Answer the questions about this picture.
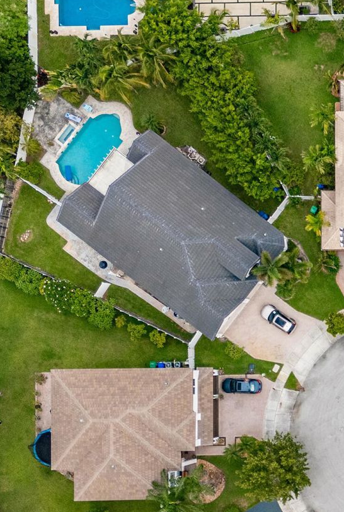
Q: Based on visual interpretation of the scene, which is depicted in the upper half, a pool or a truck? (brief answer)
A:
pool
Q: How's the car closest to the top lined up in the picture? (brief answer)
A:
diagonally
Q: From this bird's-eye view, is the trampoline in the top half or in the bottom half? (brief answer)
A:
bottom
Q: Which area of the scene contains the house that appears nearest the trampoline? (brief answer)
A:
bottom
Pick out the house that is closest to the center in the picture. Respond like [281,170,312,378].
[58,128,292,343]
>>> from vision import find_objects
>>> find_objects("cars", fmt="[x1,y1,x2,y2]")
[260,303,297,334]
[223,377,260,395]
